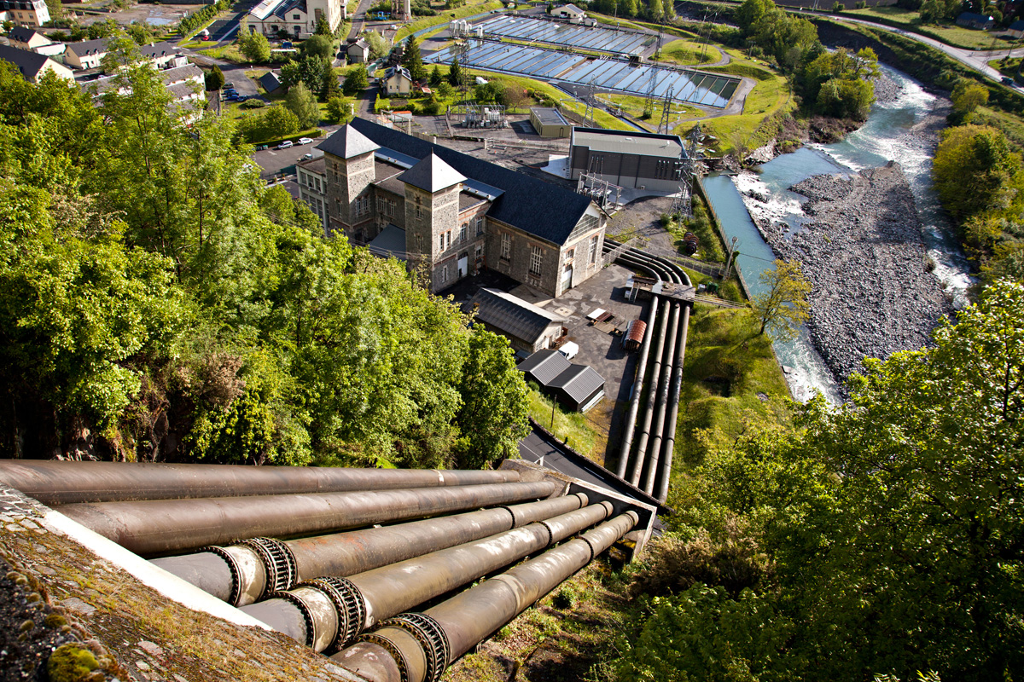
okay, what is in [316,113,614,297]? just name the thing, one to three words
building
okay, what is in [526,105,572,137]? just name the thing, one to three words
building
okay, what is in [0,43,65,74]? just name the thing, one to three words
house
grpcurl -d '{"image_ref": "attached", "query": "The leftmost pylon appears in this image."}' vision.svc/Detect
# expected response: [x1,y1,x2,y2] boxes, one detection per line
[455,32,474,103]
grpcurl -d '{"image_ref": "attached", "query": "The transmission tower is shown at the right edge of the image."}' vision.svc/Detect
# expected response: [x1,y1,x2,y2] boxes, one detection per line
[976,36,1005,71]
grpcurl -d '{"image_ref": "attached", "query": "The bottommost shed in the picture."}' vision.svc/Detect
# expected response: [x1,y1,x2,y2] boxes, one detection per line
[515,352,607,423]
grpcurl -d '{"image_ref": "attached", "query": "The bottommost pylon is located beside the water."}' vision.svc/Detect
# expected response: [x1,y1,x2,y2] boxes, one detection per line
[674,125,715,229]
